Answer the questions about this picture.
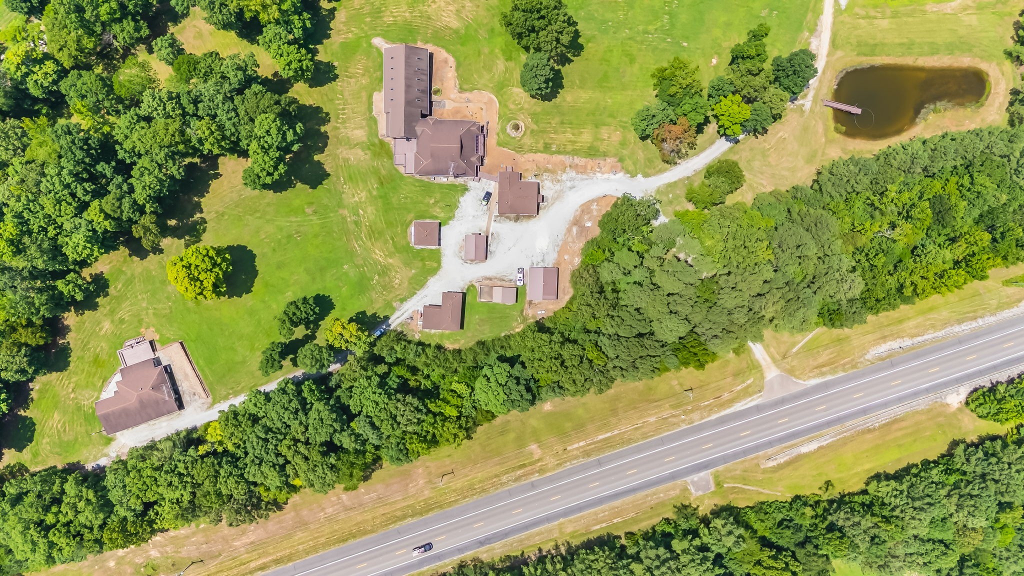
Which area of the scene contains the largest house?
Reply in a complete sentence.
Look in the top portion of the view to spot the largest house.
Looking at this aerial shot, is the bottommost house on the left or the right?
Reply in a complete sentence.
The bottommost house is on the left side of the image.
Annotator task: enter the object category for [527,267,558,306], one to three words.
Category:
building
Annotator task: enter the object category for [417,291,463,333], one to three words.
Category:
house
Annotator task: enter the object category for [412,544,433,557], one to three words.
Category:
vehicle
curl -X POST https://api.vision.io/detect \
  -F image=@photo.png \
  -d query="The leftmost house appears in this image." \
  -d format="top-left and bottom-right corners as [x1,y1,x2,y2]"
[95,336,182,435]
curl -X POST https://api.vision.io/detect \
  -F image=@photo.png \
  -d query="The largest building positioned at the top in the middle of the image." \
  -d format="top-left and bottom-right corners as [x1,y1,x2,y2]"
[384,44,498,181]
